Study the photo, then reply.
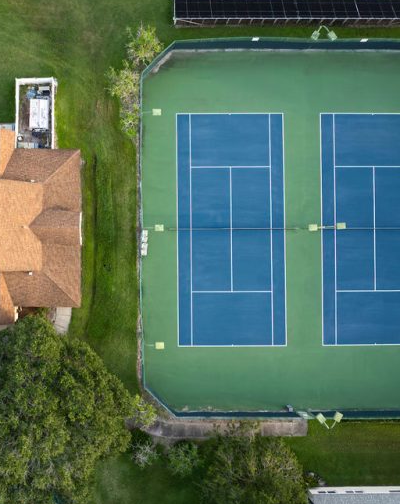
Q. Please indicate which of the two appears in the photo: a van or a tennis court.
tennis court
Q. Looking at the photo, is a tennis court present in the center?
Yes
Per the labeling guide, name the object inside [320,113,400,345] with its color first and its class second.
blue tennis court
